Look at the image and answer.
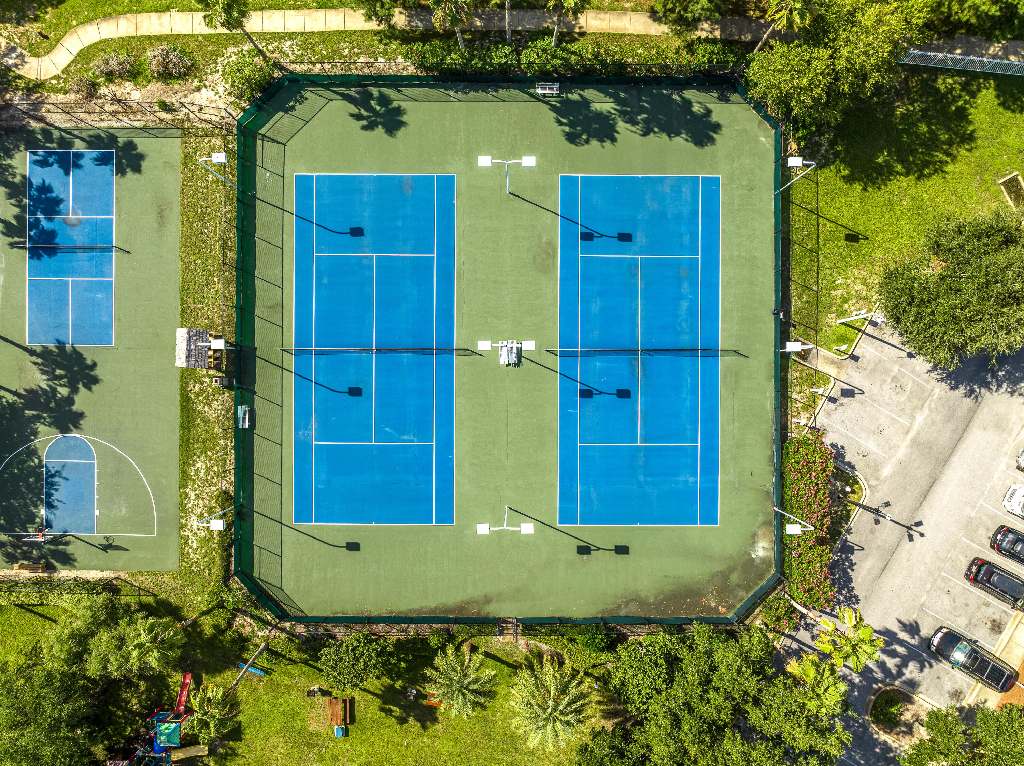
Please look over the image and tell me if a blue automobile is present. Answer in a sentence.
No, this view has no blue automobile in it.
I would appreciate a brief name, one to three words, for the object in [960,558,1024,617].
car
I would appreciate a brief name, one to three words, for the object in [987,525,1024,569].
car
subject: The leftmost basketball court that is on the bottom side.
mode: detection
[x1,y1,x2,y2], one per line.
[0,435,156,536]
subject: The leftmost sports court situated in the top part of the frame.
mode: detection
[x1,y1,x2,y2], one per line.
[26,150,115,346]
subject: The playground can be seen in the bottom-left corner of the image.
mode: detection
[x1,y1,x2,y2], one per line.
[105,672,210,766]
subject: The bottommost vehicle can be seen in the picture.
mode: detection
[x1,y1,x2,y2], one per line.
[926,629,1012,693]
